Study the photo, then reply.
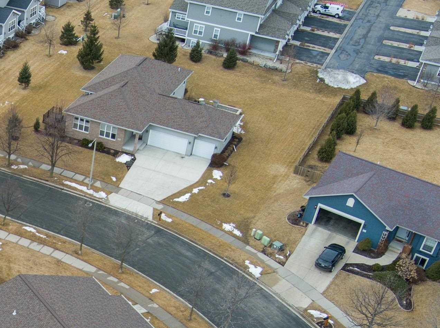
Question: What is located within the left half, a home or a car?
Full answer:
What appears within the left half is a home.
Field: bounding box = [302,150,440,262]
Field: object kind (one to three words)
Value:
house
